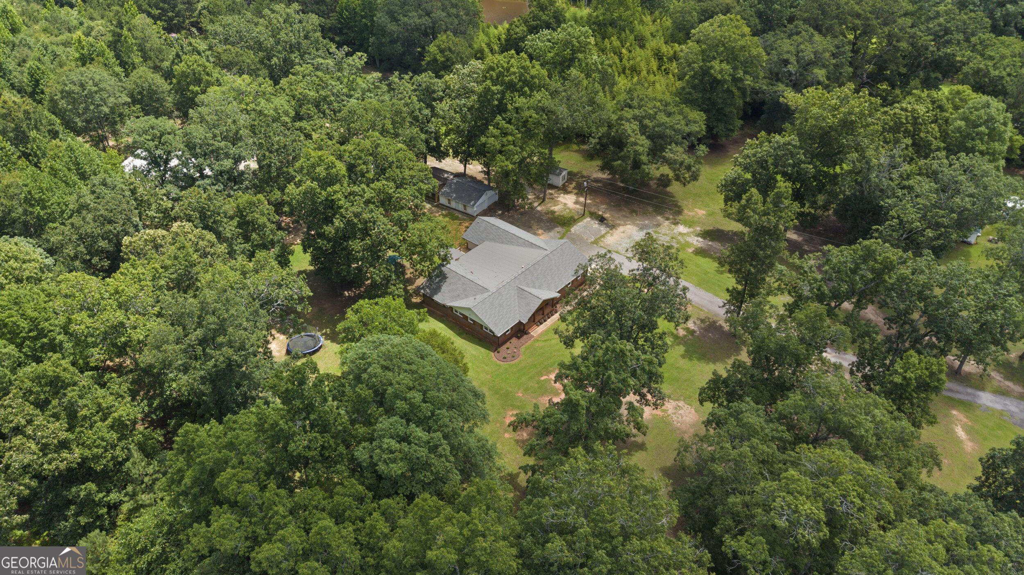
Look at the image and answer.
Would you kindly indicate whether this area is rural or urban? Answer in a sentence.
From above, the setting appears rural.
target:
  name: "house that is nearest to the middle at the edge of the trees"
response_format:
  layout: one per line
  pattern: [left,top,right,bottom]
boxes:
[422,217,592,347]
